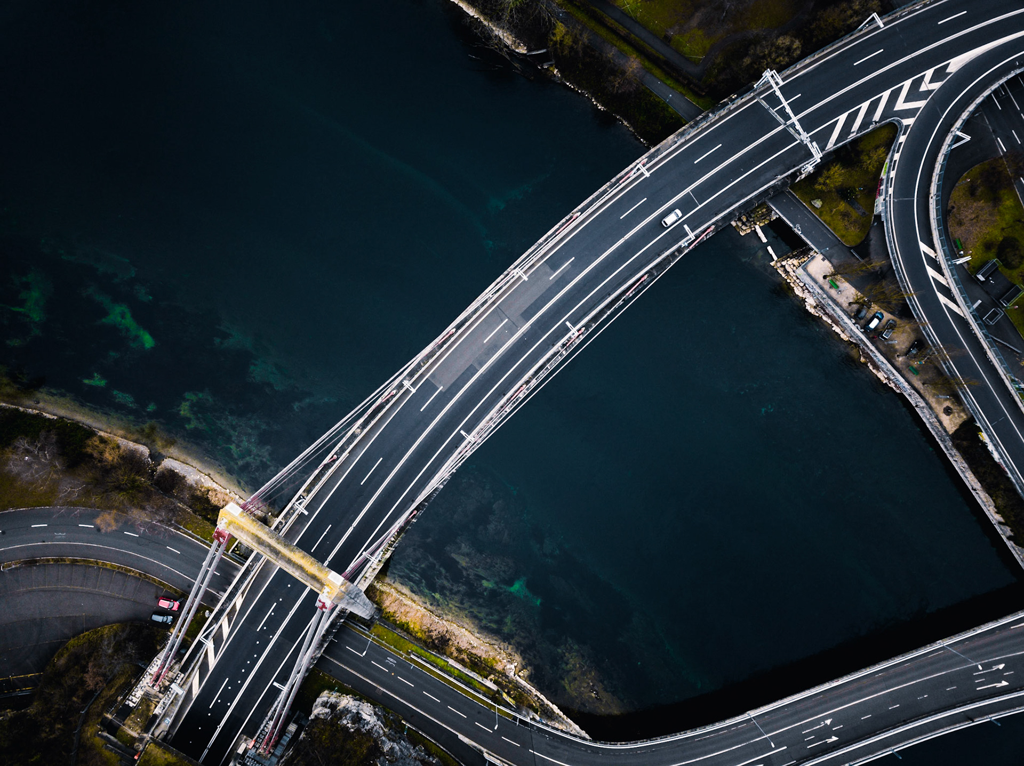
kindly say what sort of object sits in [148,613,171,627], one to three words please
car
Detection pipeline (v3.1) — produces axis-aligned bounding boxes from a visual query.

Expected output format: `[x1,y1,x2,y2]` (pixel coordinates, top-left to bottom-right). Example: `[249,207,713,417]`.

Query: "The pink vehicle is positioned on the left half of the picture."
[155,598,178,612]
